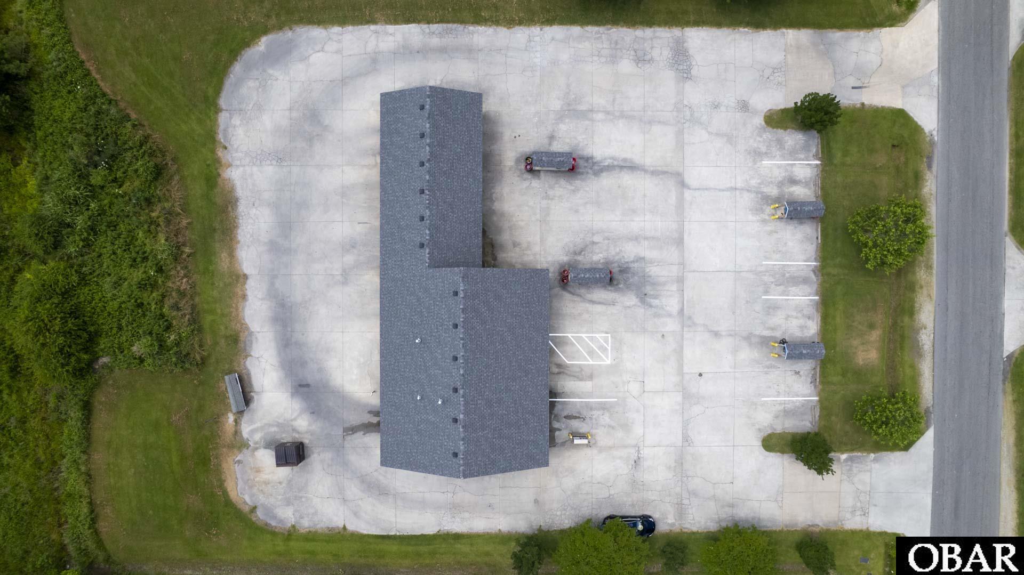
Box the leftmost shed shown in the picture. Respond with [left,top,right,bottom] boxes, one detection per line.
[224,374,251,414]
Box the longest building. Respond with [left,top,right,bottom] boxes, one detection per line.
[380,86,549,479]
